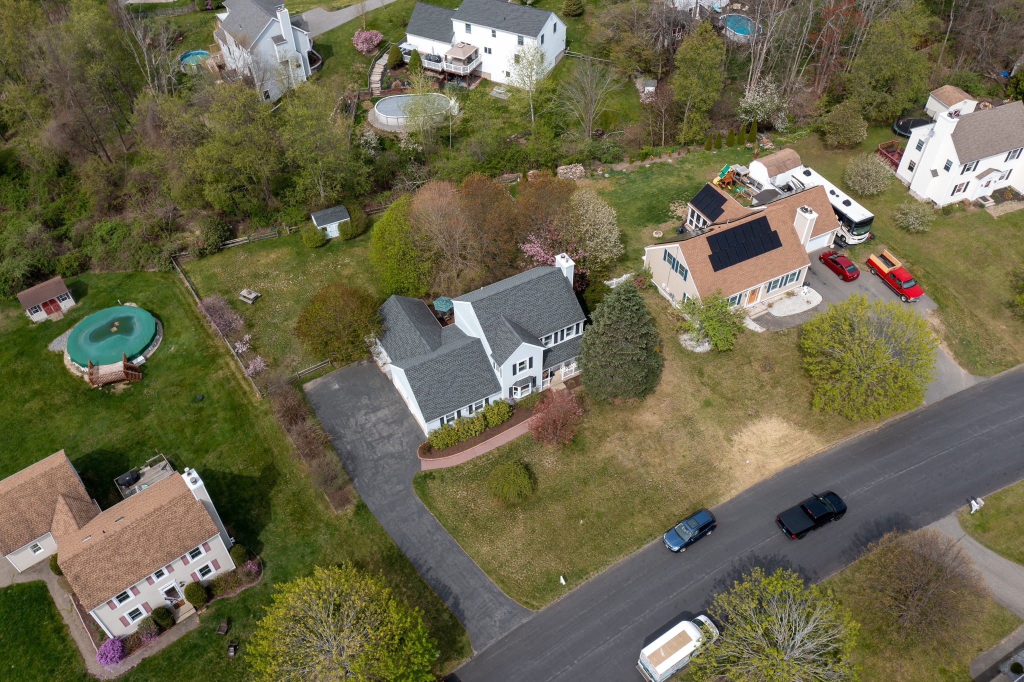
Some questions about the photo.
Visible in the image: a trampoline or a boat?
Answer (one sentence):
Of the two, only a trampoline appears.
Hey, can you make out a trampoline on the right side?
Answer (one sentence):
Yes, there is a trampoline on the right side.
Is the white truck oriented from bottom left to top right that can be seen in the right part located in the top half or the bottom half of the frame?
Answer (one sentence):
The white truck oriented from bottom left to top right that can be seen in the right part sits in the bottom half of the picture.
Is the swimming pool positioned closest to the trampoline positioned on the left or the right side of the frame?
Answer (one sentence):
You can find the swimming pool positioned closest to the trampoline on the right side of the picture.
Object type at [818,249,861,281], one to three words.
car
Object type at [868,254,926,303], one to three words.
truck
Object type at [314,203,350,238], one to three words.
shed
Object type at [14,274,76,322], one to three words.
shed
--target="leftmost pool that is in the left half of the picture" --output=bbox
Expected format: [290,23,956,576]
[64,304,160,374]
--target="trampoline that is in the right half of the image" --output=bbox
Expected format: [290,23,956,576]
[892,107,935,141]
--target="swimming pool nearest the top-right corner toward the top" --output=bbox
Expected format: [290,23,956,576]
[719,13,759,44]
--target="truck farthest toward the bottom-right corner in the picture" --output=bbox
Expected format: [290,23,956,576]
[777,491,853,540]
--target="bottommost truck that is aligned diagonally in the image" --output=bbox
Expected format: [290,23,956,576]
[632,614,722,682]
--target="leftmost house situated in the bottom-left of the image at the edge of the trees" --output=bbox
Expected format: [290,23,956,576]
[0,448,233,639]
